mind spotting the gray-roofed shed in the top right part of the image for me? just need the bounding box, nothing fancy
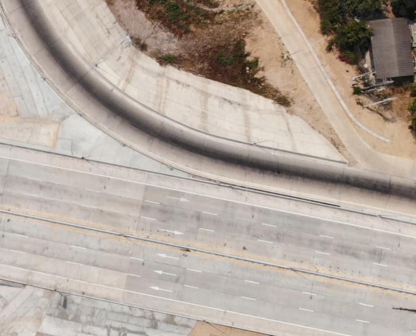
[362,18,413,78]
